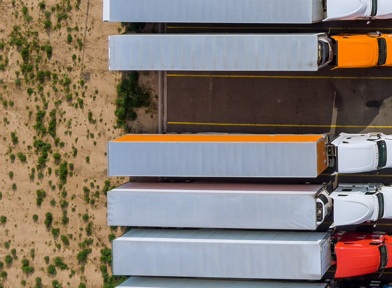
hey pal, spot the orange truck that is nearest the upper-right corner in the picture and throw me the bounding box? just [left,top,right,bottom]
[329,31,392,73]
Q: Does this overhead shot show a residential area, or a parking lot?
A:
parking lot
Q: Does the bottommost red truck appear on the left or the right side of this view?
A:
right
